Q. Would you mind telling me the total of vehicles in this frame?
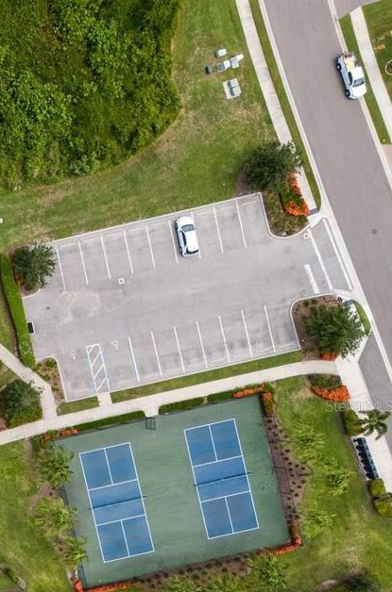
two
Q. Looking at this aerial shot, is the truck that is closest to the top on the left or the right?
right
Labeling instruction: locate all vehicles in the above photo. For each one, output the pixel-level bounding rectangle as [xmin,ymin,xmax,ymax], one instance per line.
[174,215,202,257]
[339,47,371,98]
